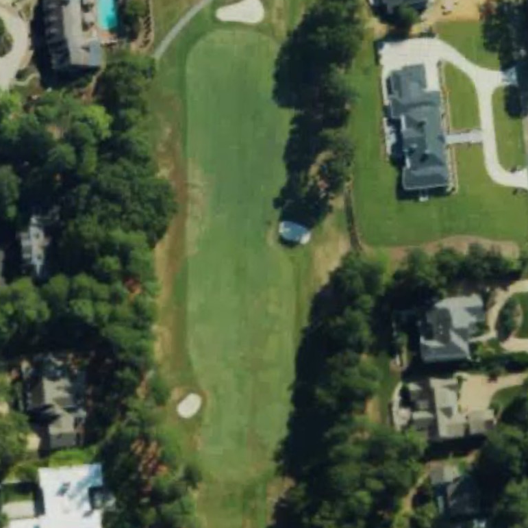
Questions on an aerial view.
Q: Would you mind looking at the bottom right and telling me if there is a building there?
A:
Yes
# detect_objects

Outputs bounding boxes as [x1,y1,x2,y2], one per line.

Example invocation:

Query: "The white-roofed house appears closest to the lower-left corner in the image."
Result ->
[11,465,112,528]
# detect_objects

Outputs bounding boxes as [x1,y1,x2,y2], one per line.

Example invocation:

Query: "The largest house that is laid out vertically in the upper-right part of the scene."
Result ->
[389,62,450,198]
